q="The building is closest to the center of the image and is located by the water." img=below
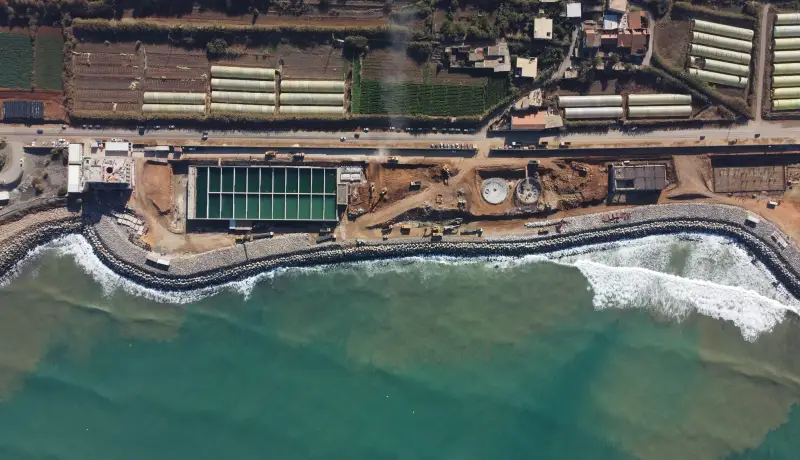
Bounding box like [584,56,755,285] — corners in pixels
[338,166,362,205]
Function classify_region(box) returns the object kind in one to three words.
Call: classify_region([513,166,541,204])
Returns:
storage tank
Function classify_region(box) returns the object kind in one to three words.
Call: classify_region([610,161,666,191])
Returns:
building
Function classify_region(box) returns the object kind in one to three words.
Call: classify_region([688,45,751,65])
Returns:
greenhouse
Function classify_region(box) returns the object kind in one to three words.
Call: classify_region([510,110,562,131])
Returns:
house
